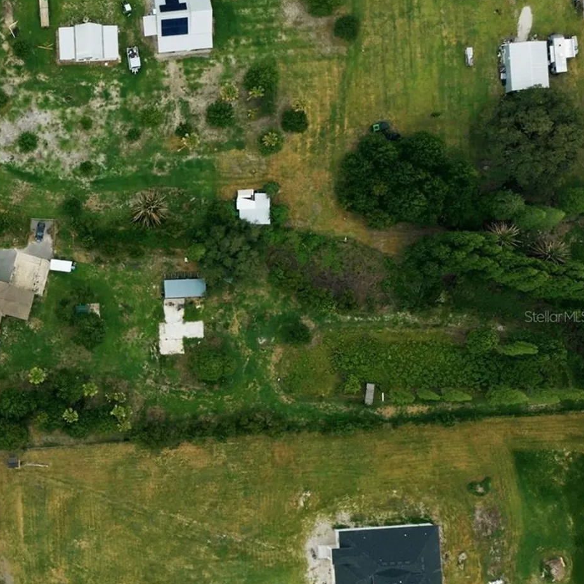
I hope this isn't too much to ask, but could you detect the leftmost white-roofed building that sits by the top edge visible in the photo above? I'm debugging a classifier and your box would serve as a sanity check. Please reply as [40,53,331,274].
[58,25,119,65]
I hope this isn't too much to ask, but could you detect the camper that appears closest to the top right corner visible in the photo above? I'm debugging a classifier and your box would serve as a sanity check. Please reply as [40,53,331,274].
[553,32,584,71]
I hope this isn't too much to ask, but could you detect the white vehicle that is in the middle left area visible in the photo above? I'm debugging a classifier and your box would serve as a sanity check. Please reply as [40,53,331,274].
[50,258,81,271]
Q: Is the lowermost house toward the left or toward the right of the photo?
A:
right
